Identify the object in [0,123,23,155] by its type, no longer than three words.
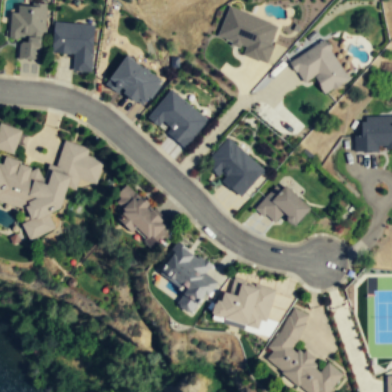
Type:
building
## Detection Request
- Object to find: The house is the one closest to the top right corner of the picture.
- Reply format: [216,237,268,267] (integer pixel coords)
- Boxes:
[292,40,354,96]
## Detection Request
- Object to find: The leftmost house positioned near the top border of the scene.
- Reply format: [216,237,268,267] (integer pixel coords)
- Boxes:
[11,3,50,61]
